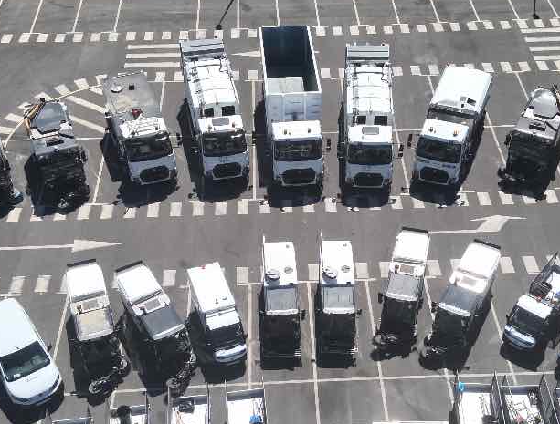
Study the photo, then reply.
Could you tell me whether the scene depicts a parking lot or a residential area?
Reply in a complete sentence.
It's a parking lot.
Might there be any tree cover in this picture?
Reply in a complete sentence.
No, no tree cover is visible.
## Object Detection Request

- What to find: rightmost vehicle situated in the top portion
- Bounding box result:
[495,85,560,190]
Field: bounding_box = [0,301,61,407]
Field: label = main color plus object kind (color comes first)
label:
white van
